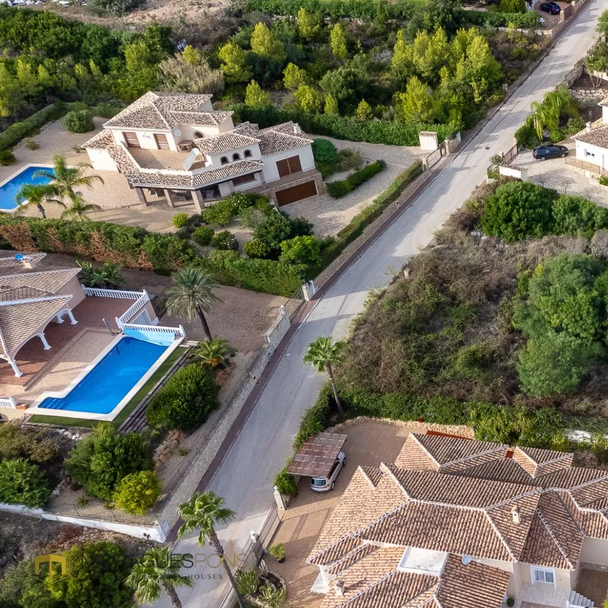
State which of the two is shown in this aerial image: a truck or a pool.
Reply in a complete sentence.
Of the two, only a pool appears.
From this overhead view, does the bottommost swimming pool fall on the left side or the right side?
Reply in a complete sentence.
The bottommost swimming pool is on the left side of the image.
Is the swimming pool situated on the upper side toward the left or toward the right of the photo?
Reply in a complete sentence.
The swimming pool situated on the upper side is on the left side of the image.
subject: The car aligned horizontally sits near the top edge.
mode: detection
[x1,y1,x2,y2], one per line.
[538,1,561,14]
